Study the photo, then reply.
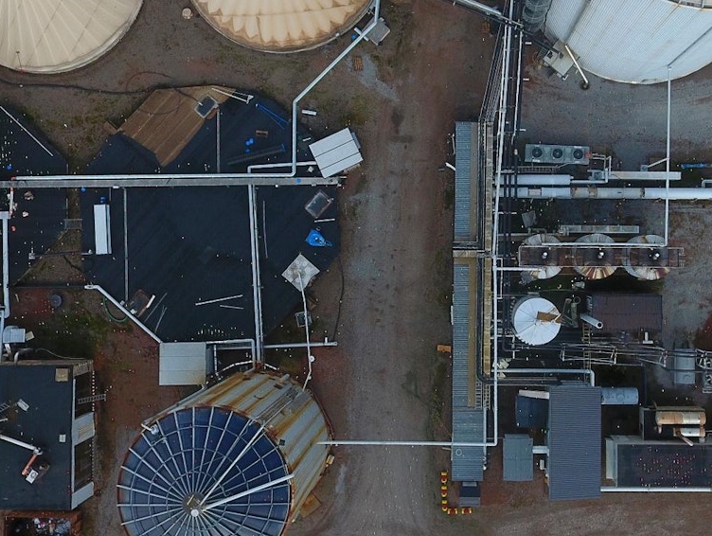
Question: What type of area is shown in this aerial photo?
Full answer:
This image shows an industrial area.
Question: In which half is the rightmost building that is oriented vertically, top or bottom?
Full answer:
Seen from above, the rightmost building that is oriented vertically lies in the bottom half of the view.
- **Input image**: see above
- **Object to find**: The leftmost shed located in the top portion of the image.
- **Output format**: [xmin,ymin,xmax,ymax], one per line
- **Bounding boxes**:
[308,128,365,178]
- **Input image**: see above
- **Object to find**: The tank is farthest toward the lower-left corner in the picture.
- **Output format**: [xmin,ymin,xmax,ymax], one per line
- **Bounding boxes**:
[113,371,332,536]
